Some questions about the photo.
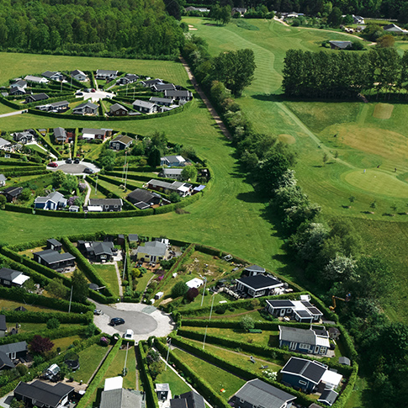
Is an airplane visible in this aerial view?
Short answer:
No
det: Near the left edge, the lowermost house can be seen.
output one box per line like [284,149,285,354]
[13,382,74,408]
